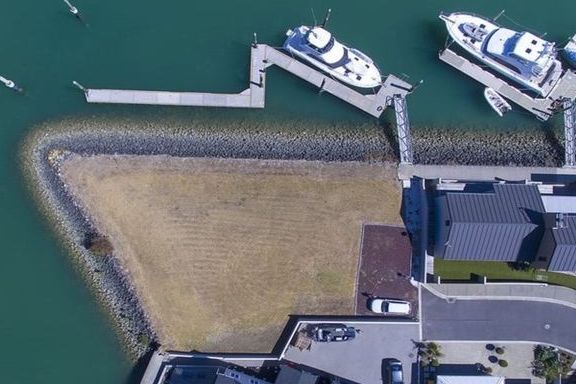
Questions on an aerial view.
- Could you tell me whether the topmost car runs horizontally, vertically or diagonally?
horizontally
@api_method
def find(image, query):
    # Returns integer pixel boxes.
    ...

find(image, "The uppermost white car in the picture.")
[370,296,412,316]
